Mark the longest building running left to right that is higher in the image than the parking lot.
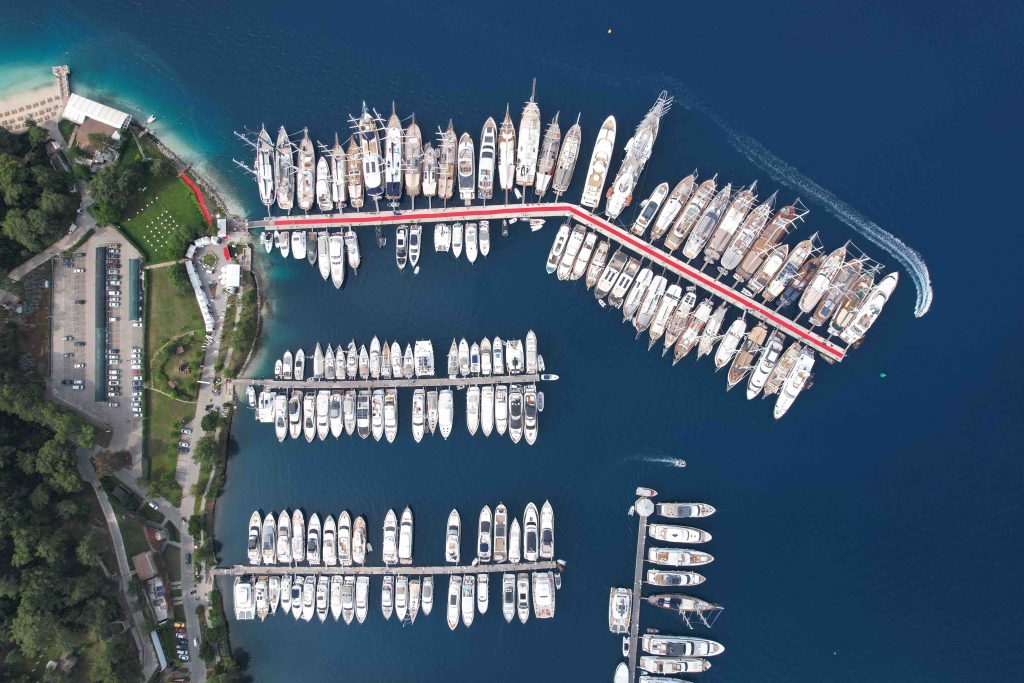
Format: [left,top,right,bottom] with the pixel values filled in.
[61,96,135,131]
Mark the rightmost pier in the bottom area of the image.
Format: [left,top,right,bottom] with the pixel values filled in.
[629,496,654,683]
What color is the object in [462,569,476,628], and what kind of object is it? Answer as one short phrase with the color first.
white boat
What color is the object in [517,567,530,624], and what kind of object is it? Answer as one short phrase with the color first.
white boat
